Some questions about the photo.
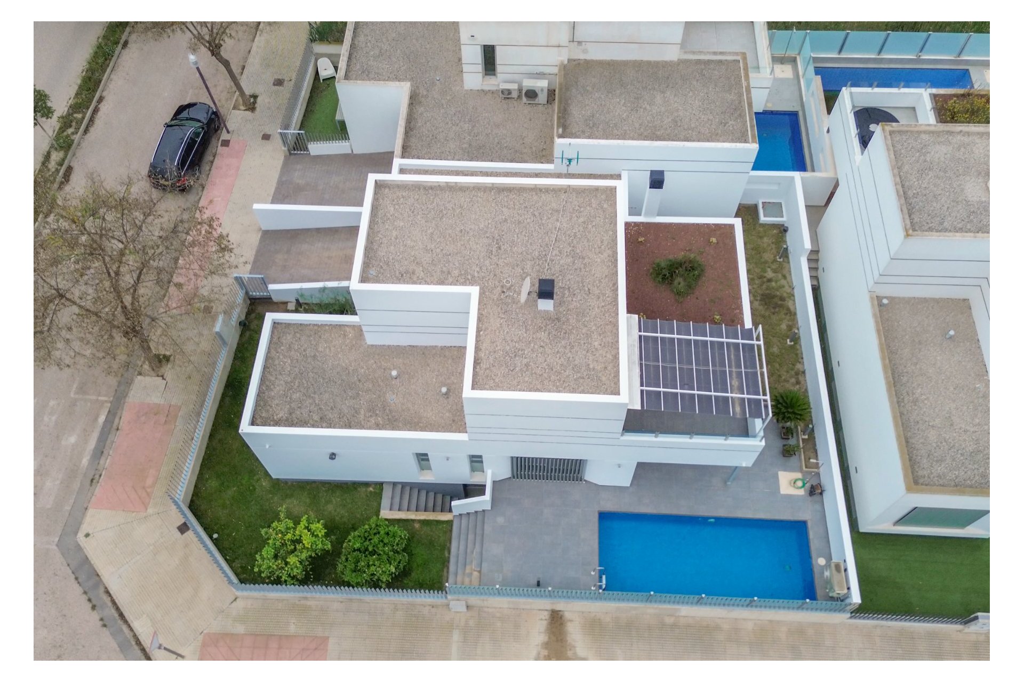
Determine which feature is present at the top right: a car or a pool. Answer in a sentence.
You can see a pool at the top right.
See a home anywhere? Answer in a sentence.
Yes, you can see a home in this photo.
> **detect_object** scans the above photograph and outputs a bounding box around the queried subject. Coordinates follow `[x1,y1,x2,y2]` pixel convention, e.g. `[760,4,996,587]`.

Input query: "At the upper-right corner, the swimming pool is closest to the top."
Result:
[817,66,975,107]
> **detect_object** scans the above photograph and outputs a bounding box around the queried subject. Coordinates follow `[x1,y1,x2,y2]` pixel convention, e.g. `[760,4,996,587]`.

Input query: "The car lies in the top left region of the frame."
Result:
[149,100,223,193]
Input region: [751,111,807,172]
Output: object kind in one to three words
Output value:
swimming pool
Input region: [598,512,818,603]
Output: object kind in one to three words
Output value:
swimming pool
